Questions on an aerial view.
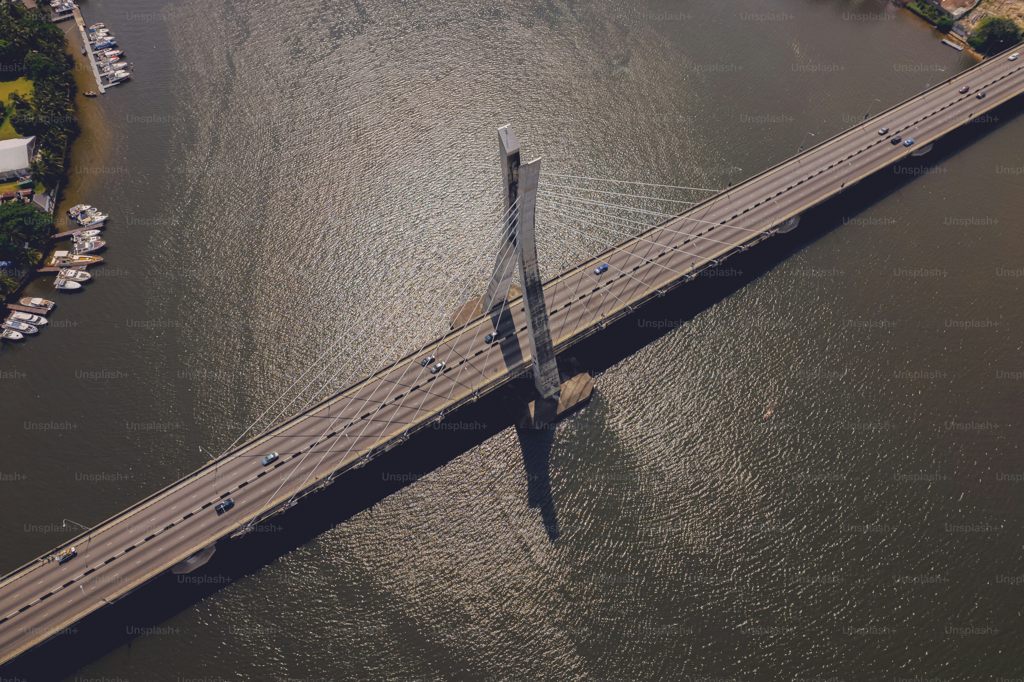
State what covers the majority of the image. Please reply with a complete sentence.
Most of the picture is covered by water.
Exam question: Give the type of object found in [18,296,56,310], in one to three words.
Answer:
boat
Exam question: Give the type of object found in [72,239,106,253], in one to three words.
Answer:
boat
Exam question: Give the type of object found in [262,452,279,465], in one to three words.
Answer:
vehicle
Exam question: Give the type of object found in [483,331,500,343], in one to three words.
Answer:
vehicle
